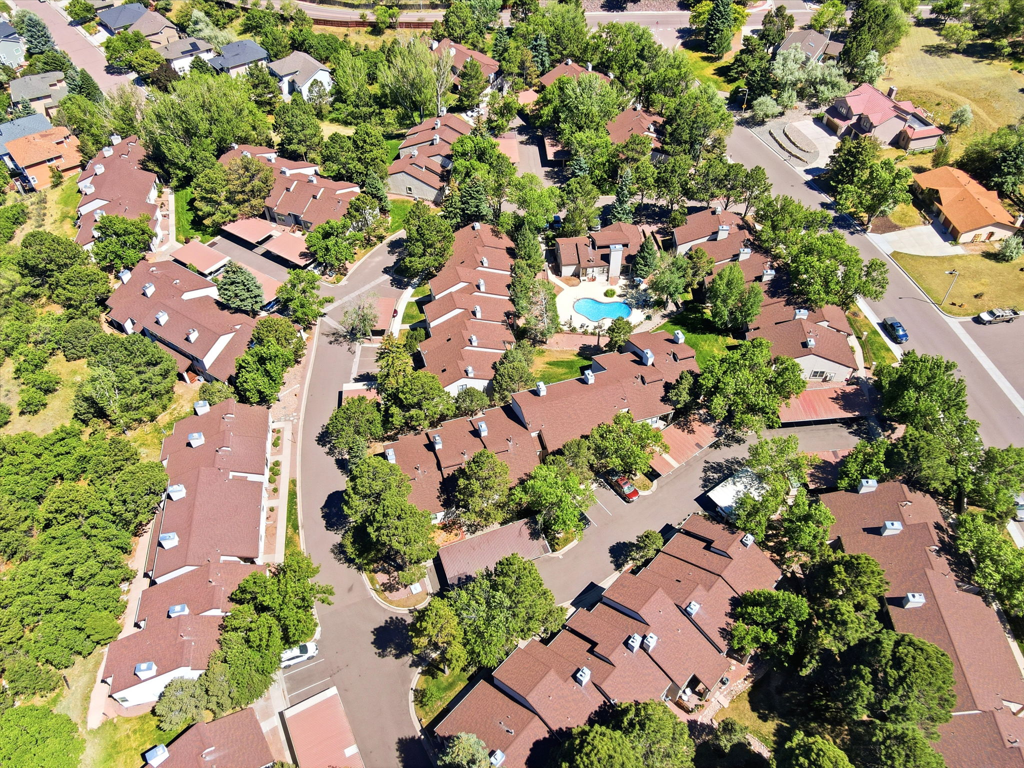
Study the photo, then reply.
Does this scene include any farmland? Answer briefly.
No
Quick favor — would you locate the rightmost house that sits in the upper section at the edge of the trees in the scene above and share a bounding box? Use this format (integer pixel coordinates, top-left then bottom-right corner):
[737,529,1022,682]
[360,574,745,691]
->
[912,166,1023,247]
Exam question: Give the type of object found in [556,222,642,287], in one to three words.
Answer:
building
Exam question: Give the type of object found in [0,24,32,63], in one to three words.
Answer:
house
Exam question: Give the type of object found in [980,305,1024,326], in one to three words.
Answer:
truck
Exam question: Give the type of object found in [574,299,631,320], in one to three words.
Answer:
swimming pool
